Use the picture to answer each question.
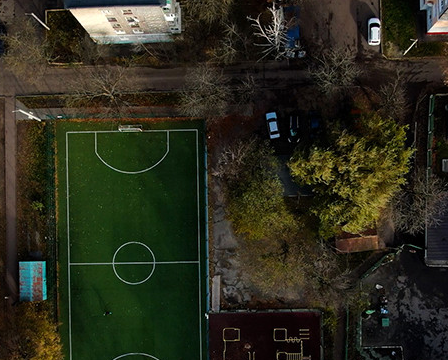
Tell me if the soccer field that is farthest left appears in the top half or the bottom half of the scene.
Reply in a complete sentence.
It is in the bottom half that the soccer field that is farthest left appears.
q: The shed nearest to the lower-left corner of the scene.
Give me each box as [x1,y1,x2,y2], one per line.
[19,260,51,302]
